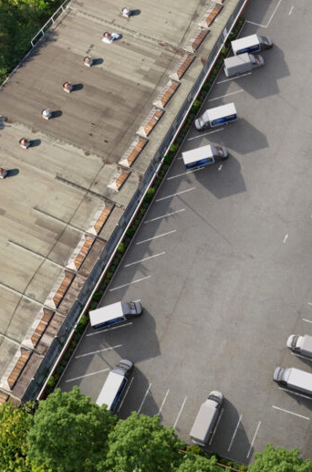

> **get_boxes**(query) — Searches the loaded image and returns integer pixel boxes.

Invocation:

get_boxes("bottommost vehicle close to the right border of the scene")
[275,370,312,396]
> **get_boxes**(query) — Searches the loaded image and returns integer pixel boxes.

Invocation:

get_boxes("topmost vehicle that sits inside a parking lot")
[233,36,272,57]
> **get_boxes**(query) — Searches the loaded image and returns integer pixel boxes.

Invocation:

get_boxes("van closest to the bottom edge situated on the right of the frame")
[190,395,223,445]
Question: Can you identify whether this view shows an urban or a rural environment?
urban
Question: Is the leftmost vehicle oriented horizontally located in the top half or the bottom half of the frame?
bottom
